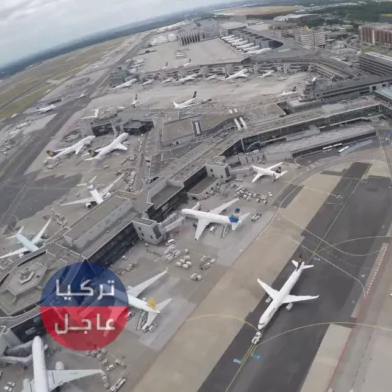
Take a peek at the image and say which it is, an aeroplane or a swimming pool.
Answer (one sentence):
I can see an aeroplane in this picture.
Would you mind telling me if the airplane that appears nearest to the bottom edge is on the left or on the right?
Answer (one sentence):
The airplane that appears nearest to the bottom edge appears in the left half of the scene.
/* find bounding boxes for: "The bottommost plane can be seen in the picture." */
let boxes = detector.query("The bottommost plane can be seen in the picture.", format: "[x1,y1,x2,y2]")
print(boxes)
[32,339,111,392]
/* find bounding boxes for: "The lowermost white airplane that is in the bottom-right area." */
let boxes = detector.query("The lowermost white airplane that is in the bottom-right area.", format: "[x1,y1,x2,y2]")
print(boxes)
[257,258,319,339]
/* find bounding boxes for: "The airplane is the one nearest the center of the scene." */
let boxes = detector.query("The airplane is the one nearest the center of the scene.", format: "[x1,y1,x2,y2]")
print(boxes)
[182,198,248,237]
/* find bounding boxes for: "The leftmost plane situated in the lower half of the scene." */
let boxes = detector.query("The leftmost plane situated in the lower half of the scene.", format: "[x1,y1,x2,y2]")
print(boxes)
[0,219,56,258]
